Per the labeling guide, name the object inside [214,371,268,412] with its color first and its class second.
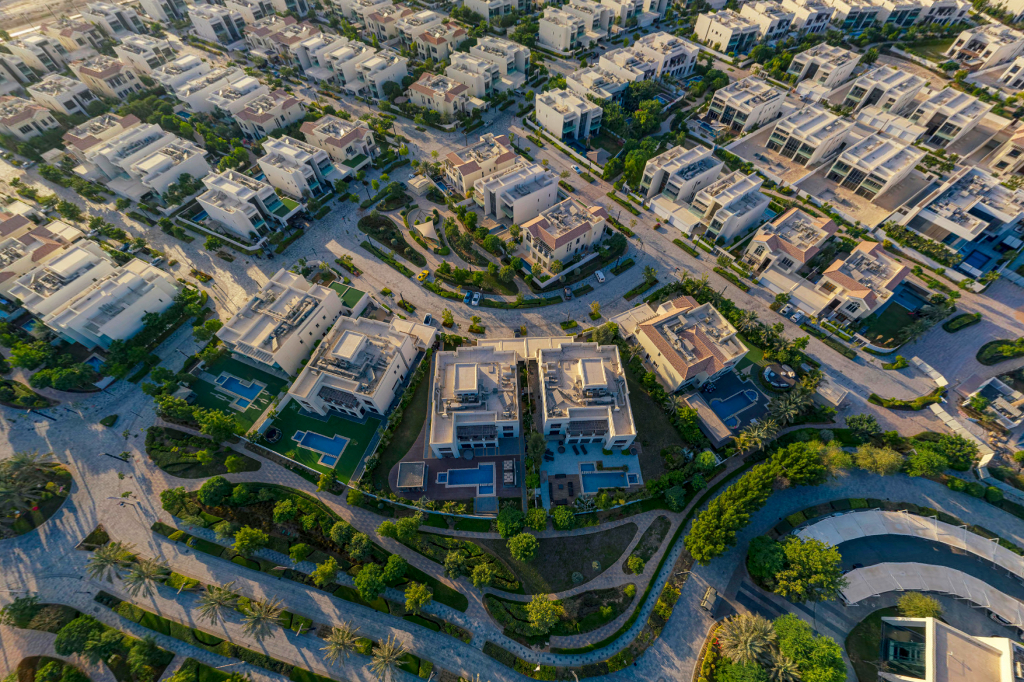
blue swimming pool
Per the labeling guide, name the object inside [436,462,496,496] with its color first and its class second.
blue swimming pool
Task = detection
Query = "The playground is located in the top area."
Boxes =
[410,202,443,247]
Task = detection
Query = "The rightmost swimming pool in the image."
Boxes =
[966,250,994,270]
